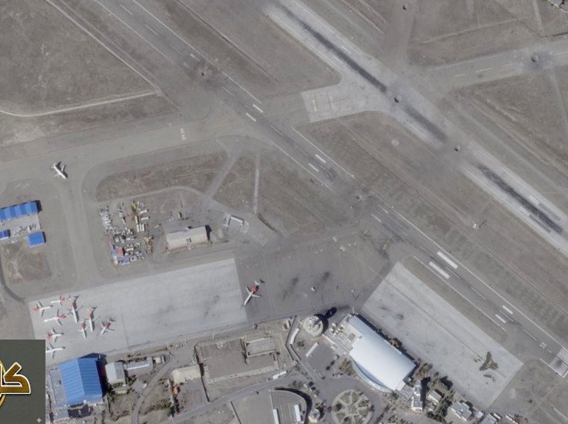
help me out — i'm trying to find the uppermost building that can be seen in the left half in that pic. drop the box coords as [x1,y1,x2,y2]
[0,203,40,222]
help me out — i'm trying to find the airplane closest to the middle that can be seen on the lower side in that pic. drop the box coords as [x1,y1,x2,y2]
[244,282,260,306]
